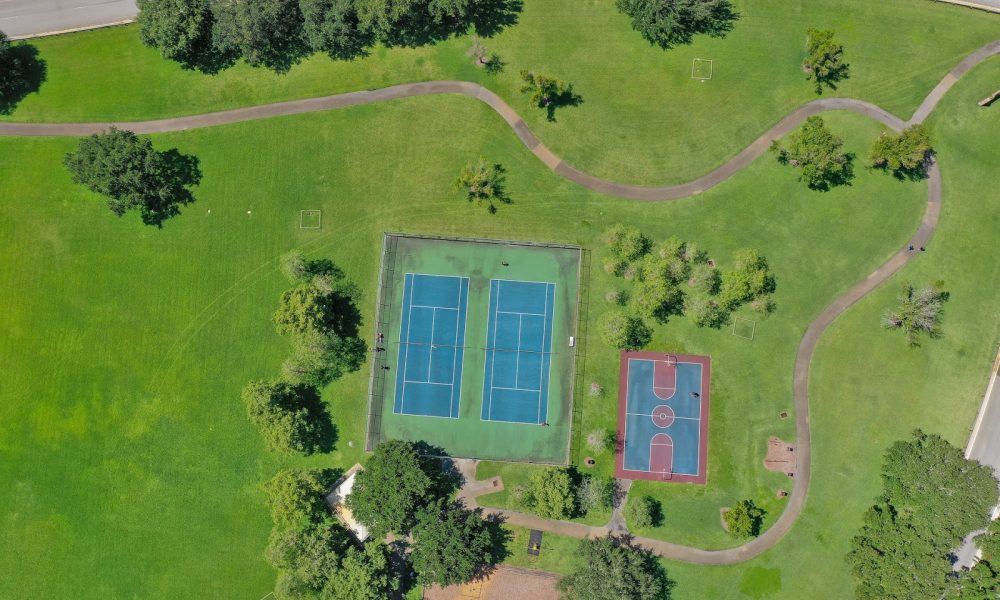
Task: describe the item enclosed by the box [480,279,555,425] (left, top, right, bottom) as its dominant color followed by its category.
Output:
blue tennis court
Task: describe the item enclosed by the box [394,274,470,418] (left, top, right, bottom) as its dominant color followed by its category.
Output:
blue tennis court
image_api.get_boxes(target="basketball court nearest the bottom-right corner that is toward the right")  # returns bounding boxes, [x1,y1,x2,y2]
[615,351,710,485]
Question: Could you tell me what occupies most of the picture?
grass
